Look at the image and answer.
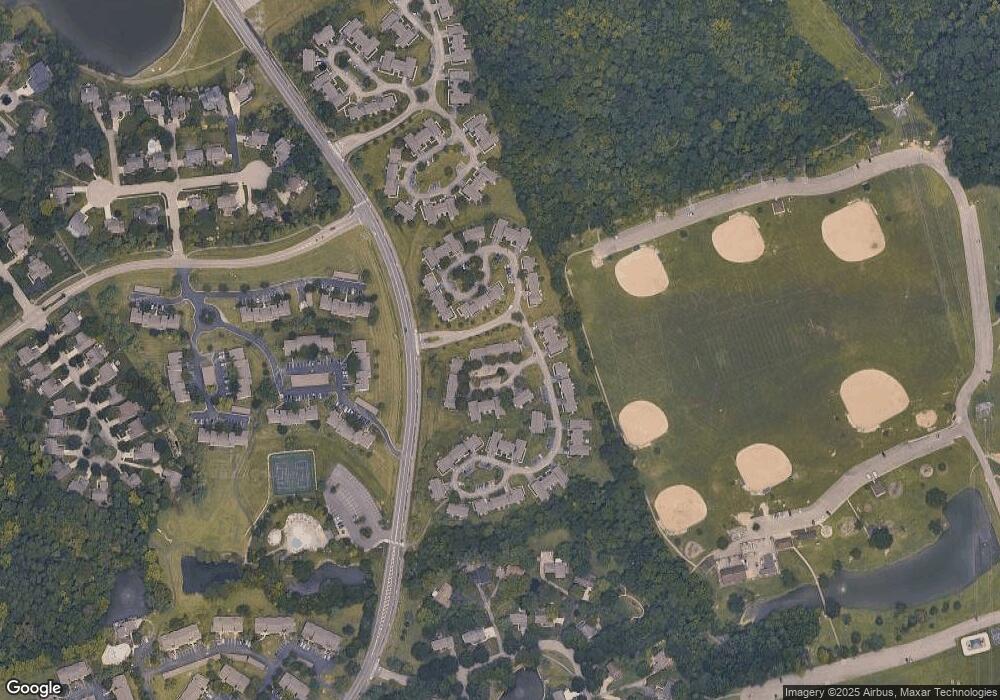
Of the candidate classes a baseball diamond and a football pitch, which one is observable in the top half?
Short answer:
baseball diamond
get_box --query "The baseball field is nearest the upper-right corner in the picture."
[820,200,887,263]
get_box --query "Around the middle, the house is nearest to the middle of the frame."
[469,340,523,360]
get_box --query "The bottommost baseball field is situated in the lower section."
[654,483,708,537]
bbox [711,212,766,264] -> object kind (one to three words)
baseball field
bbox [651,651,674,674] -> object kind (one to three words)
house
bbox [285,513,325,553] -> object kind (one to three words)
swimming pool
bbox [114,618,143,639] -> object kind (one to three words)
building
